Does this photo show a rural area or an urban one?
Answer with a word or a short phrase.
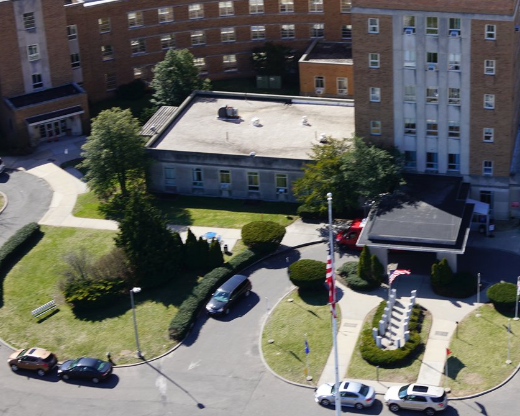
urban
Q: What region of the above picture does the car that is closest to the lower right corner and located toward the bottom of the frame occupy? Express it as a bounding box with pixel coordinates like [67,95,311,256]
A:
[387,380,448,415]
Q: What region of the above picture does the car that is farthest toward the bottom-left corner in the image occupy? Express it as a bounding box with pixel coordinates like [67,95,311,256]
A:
[2,345,63,378]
